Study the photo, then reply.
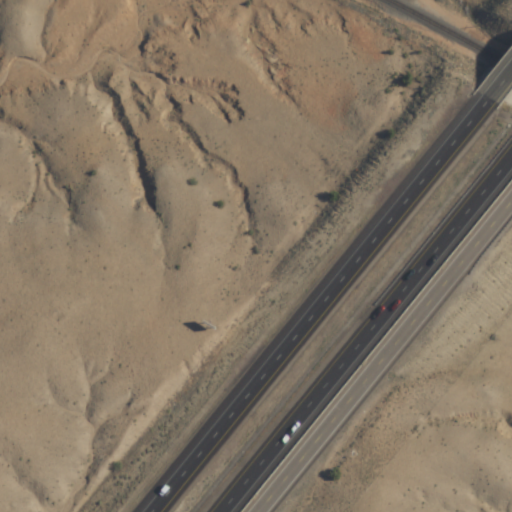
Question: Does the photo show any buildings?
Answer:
No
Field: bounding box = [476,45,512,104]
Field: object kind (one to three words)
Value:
bridge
